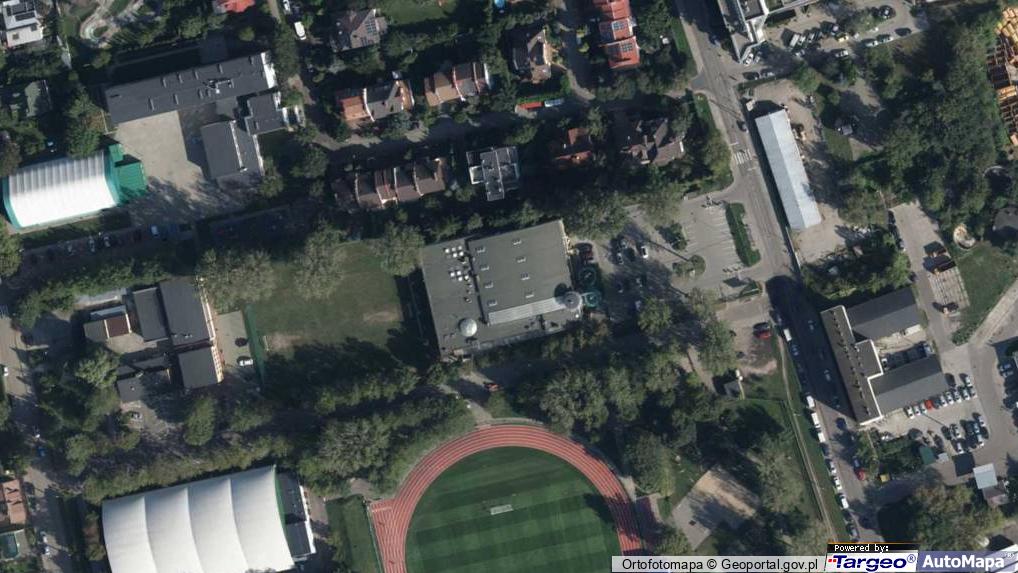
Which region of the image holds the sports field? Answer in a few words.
bottom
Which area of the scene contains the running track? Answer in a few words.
bottom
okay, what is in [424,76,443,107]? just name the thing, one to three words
house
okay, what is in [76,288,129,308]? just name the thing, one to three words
shed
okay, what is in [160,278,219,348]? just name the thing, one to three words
building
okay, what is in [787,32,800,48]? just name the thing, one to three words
vehicle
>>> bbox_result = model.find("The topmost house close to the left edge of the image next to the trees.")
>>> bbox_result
[2,0,46,47]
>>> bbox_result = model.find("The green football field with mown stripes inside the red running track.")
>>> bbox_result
[408,447,620,573]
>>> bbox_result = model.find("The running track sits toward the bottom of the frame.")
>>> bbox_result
[377,421,661,573]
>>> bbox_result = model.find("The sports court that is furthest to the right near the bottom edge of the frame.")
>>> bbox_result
[673,471,754,550]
